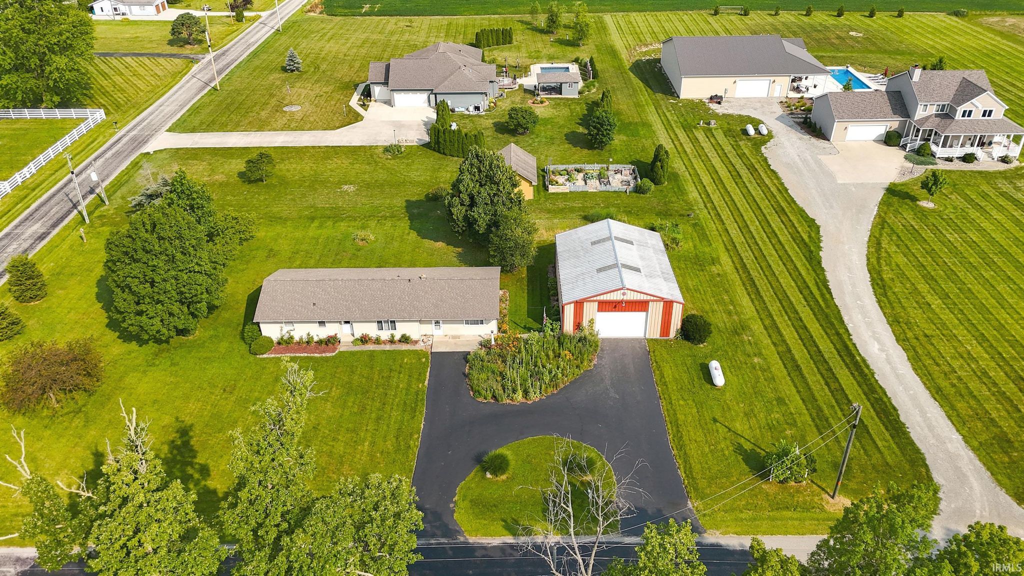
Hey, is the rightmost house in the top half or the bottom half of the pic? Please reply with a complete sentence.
You can find the rightmost house in the top half.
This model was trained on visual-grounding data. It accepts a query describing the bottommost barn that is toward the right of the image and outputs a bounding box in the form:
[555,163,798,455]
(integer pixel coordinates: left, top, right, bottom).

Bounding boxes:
[553,220,687,339]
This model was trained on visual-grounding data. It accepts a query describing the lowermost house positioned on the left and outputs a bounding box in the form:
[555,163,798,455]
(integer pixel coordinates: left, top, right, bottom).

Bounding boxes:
[251,266,501,343]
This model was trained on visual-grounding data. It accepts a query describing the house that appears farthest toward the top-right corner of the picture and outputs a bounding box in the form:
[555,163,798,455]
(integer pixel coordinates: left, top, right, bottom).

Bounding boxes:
[805,61,1024,157]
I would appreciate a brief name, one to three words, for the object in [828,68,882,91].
swimming pool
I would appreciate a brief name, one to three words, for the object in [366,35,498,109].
house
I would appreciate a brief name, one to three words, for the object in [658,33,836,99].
barn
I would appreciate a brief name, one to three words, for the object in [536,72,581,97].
building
